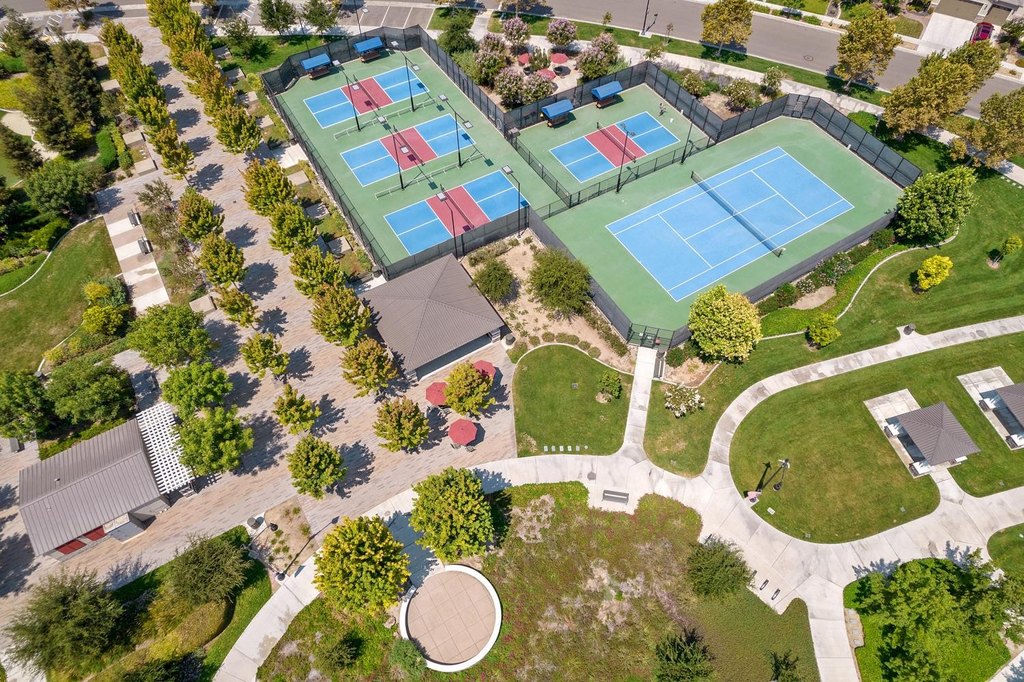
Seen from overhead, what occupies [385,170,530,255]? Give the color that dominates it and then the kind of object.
blue sports court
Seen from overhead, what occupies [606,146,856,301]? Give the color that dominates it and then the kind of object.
blue tennis court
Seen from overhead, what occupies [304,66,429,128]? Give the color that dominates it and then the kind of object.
blue sports court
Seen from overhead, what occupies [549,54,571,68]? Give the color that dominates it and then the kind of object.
red umbrella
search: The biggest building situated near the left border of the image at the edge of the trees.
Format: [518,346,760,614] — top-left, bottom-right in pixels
[15,419,174,564]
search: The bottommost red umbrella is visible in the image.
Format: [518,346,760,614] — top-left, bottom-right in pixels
[446,419,480,450]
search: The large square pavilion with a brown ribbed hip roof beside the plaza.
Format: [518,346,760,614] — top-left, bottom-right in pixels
[359,252,509,400]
